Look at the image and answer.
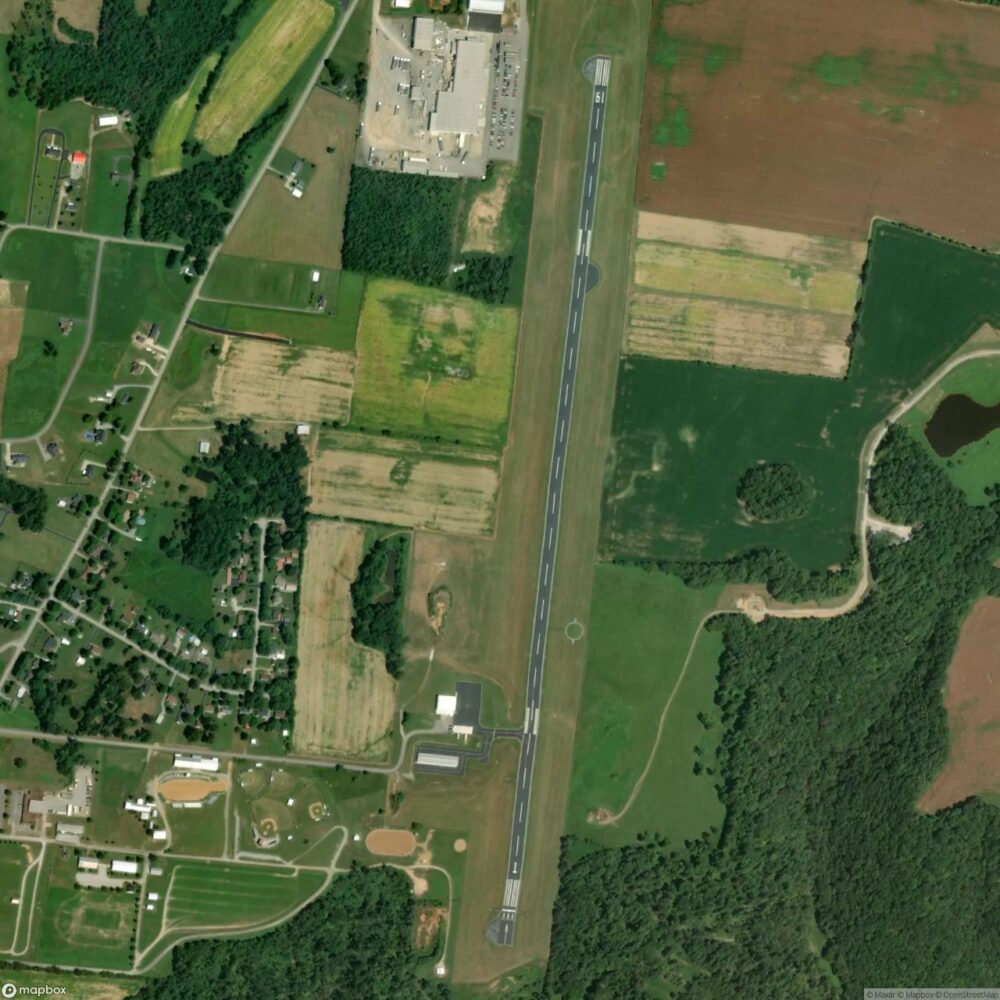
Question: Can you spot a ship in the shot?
No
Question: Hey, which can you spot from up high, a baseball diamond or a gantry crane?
baseball diamond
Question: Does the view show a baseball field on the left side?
Yes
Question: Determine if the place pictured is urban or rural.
rural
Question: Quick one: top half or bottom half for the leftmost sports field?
bottom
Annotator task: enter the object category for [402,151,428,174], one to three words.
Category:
building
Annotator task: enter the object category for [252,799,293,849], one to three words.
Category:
baseball field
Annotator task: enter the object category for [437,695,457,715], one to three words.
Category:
hangar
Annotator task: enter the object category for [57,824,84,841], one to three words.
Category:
building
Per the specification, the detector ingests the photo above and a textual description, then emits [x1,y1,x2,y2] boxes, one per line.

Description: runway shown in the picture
[485,56,611,944]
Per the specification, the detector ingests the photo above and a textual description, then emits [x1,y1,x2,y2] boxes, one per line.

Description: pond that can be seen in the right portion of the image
[925,394,1000,457]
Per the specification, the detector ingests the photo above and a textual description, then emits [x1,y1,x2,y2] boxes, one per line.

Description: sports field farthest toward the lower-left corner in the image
[40,884,134,968]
